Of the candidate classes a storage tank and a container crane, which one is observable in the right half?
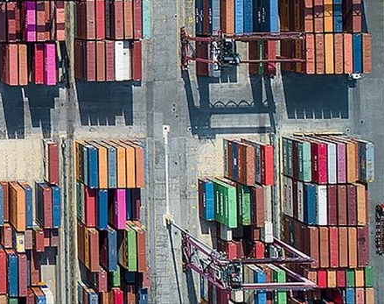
container crane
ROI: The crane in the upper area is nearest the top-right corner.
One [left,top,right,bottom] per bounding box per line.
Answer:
[182,26,316,68]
